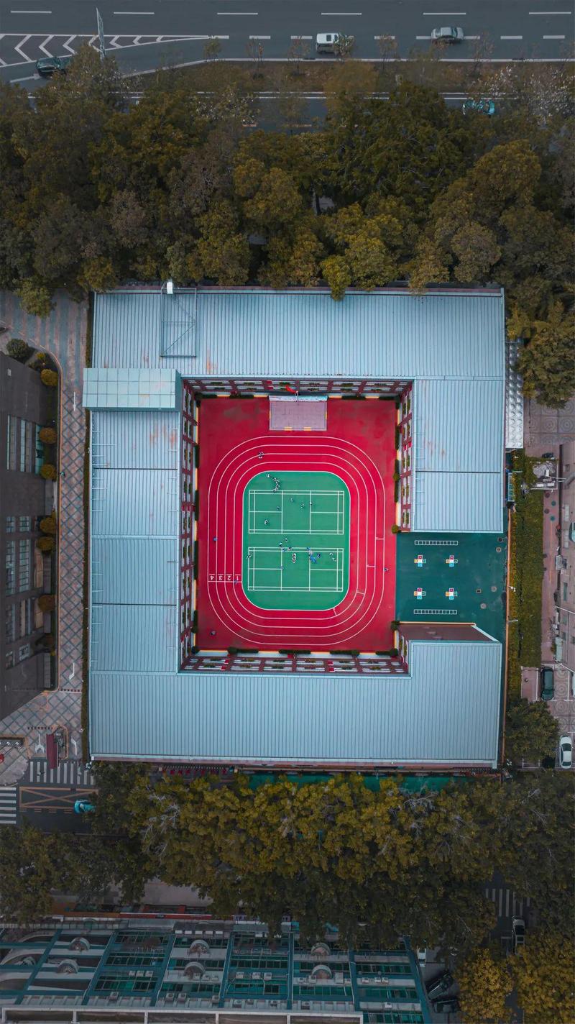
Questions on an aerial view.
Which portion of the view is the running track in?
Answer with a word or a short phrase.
center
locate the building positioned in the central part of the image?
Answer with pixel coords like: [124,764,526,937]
[82,287,506,769]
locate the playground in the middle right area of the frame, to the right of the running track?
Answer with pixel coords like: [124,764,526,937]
[397,439,512,640]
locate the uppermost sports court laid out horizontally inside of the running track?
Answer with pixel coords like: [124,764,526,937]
[248,490,345,535]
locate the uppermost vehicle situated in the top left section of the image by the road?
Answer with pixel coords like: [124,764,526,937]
[33,55,69,76]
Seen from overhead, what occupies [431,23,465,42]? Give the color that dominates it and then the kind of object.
gray car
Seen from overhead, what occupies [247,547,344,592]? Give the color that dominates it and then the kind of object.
green sports court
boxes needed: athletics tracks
[196,394,397,649]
